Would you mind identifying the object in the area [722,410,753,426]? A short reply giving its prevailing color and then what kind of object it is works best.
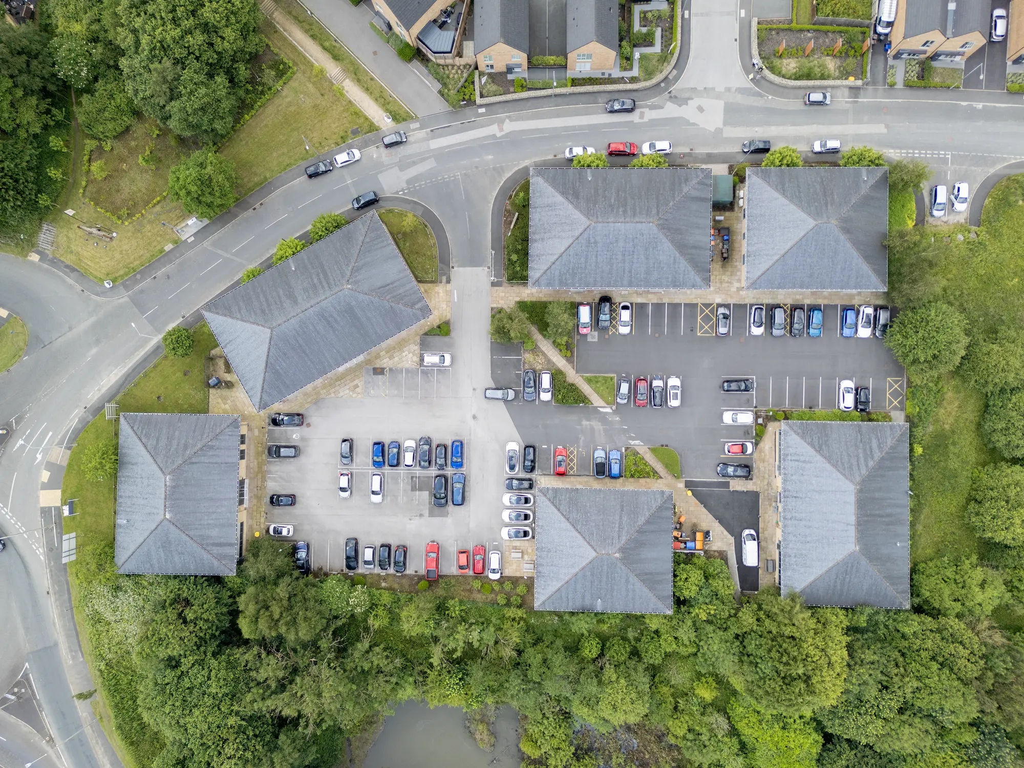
white car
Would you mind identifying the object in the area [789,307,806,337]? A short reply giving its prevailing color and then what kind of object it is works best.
gray car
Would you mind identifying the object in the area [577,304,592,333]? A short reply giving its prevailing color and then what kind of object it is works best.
white car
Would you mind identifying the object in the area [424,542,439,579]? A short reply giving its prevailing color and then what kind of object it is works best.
red vehicle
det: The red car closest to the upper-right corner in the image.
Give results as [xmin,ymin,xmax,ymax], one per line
[607,140,638,156]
